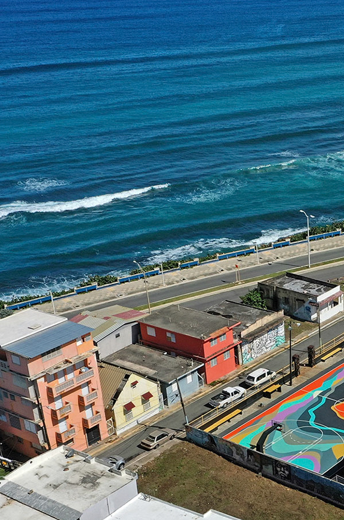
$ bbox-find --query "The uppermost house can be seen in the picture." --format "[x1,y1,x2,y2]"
[258,272,344,321]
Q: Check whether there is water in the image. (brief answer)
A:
Yes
